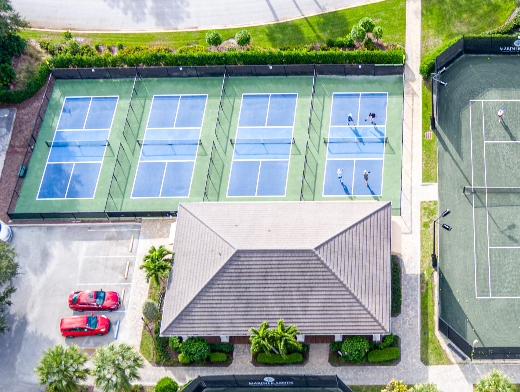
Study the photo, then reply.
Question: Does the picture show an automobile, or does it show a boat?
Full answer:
The image shows an automobile.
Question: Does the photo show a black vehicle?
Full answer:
No, there isn't any black vehicle down there.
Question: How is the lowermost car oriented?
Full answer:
What the image shows is the lowermost car lying horizontally.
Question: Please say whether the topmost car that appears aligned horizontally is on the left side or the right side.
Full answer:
You can find the topmost car that appears aligned horizontally on the left side of the picture.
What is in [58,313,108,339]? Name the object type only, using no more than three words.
car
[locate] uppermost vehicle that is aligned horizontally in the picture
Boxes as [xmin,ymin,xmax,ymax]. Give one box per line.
[66,289,121,312]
